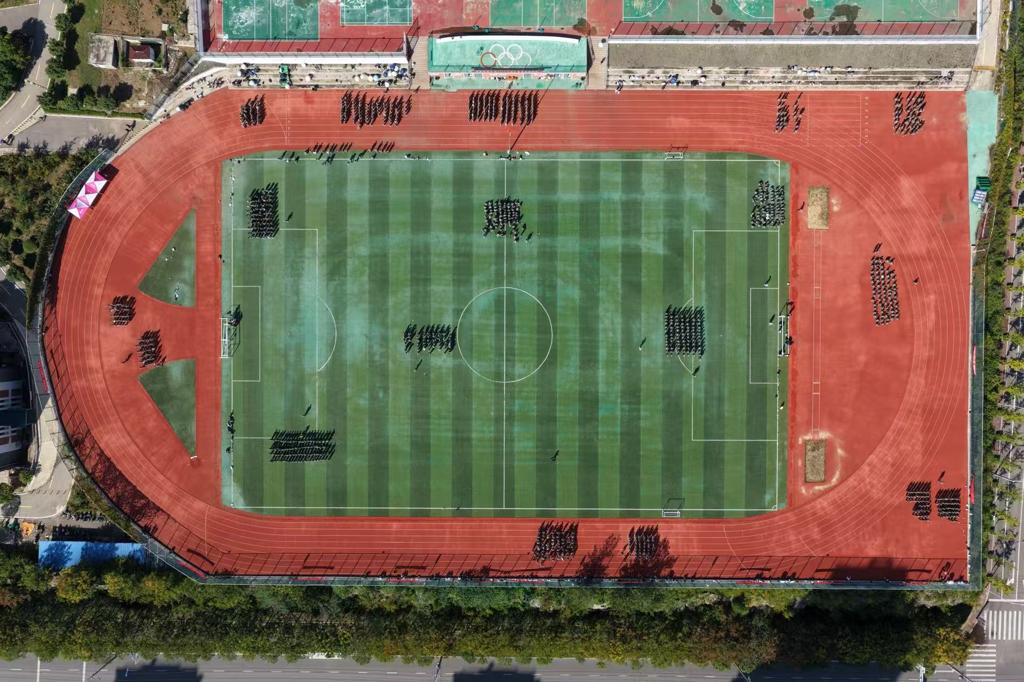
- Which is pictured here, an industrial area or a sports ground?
sports ground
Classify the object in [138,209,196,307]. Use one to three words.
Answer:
sports field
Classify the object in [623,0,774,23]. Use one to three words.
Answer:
basketball court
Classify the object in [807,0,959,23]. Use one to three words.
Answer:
basketball court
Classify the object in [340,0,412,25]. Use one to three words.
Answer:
sports court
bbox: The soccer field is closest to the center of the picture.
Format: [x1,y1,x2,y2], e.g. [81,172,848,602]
[221,151,789,518]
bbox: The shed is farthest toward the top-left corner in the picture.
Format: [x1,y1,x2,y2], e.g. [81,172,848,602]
[89,35,119,69]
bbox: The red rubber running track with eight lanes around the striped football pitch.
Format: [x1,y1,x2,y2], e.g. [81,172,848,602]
[42,89,970,582]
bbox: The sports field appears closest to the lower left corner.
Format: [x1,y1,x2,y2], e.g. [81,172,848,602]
[138,358,195,457]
